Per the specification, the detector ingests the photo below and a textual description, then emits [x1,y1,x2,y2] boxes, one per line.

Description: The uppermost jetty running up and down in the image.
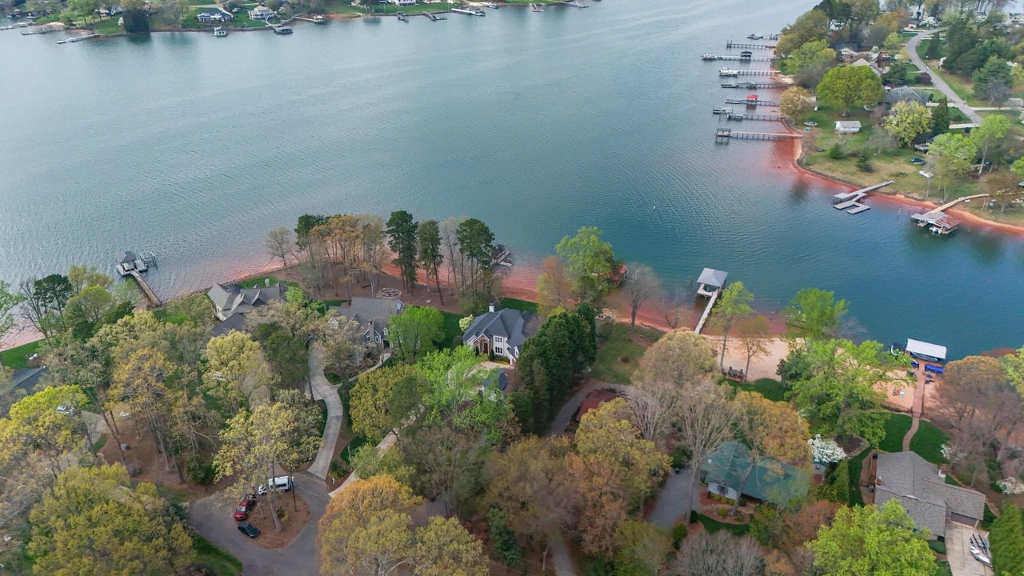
[694,268,728,335]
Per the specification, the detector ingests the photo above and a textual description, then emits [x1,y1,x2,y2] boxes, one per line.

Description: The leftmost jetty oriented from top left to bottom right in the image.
[115,250,166,311]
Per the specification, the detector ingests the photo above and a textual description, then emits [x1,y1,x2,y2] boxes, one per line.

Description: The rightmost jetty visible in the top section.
[907,193,986,239]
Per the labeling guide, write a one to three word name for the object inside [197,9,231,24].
house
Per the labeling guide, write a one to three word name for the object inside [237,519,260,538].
car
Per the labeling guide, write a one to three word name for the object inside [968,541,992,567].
boat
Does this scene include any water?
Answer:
Yes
